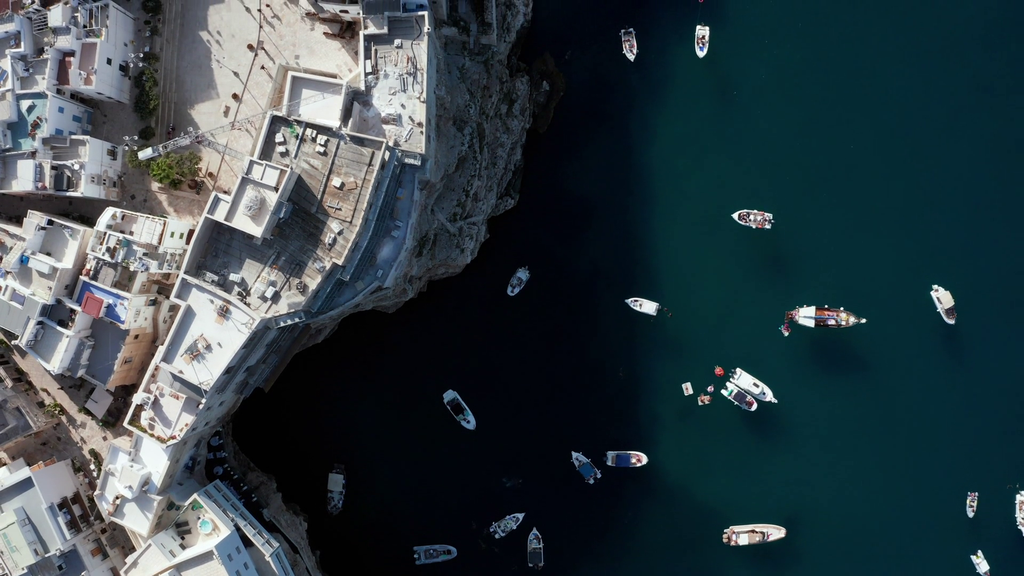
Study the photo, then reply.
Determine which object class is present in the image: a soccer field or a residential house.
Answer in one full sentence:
This aerial view contains a residential house.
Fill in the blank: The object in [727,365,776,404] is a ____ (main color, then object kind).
white boat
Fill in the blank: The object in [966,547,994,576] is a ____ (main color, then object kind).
white boat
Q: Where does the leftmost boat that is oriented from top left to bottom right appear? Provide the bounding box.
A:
[441,388,476,430]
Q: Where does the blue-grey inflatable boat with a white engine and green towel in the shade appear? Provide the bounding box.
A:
[412,544,458,564]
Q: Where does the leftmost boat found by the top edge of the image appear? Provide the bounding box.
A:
[621,25,639,63]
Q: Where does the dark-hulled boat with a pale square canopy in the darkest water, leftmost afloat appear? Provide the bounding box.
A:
[326,463,348,516]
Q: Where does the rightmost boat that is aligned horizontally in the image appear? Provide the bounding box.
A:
[783,303,868,329]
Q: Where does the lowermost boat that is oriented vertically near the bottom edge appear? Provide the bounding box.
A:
[527,527,544,571]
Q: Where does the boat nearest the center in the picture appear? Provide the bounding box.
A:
[509,264,531,295]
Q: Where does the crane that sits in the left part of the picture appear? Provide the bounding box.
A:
[134,66,393,163]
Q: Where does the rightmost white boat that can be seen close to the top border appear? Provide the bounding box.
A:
[694,21,711,59]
